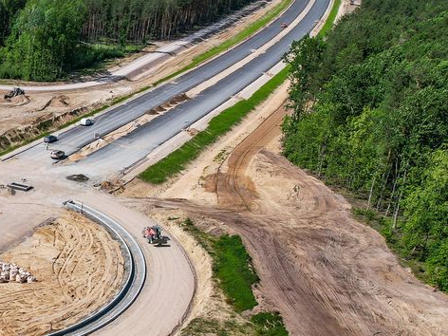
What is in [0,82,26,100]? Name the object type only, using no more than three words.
work vehicle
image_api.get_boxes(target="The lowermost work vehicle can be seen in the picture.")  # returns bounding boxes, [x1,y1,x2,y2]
[139,222,166,245]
